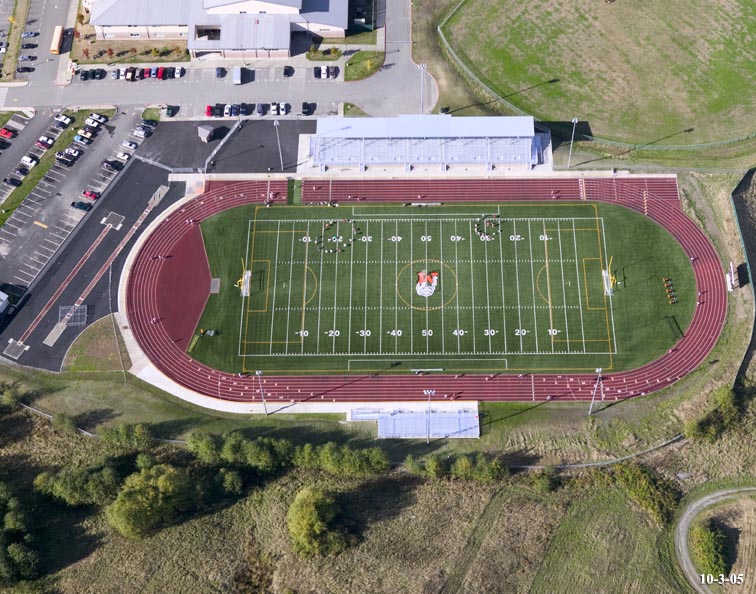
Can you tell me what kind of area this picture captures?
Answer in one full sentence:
What you see here is a sports ground.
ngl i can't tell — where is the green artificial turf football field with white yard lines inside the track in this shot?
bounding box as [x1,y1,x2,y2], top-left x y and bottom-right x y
[185,201,697,376]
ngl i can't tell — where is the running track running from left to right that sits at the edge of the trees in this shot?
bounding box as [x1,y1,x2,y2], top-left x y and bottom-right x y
[125,178,727,403]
